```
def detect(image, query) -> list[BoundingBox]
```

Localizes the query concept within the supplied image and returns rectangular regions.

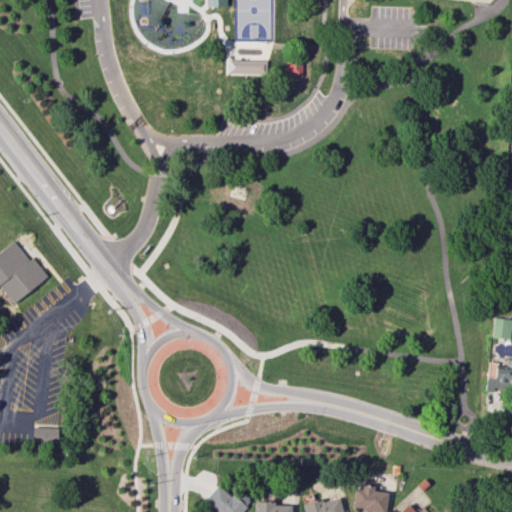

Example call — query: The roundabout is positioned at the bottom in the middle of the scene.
[136,302,308,463]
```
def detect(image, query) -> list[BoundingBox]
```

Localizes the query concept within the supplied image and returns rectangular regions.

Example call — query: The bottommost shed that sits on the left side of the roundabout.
[34,428,60,442]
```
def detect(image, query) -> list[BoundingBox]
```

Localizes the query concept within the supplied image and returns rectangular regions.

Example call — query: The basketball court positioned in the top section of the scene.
[235,0,274,41]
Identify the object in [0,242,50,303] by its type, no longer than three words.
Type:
building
